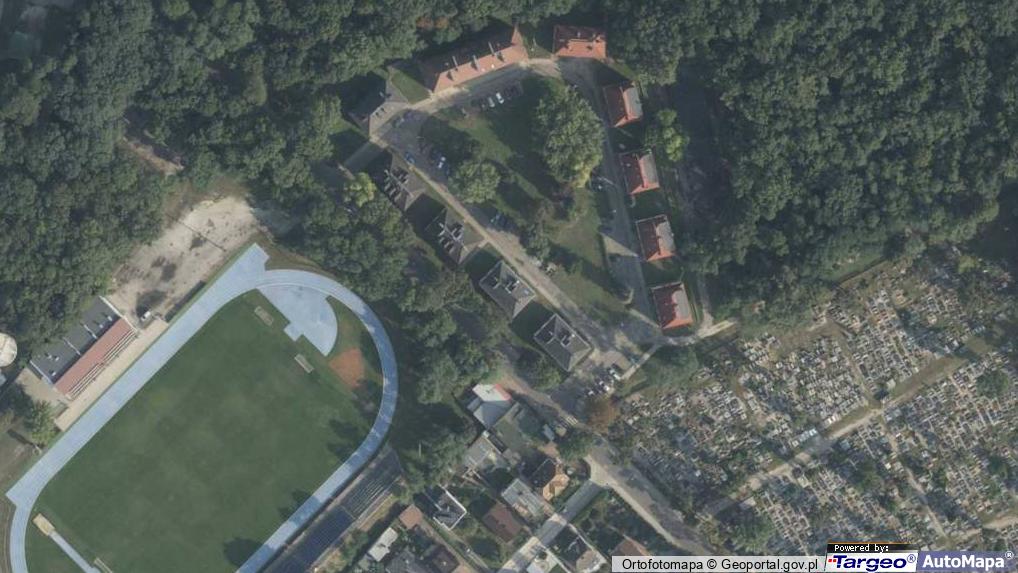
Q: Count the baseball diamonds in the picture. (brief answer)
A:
0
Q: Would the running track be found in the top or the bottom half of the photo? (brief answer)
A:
bottom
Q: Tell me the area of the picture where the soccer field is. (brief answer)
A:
bottom left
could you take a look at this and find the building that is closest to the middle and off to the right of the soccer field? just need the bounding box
[479,260,536,318]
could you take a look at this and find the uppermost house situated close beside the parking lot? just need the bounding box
[424,30,529,91]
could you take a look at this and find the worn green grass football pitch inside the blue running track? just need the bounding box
[27,286,383,573]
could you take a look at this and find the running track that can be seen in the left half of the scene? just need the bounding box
[5,244,400,573]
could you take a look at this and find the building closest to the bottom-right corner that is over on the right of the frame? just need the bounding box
[607,537,654,573]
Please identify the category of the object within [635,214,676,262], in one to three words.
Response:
house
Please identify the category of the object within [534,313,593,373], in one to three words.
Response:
house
